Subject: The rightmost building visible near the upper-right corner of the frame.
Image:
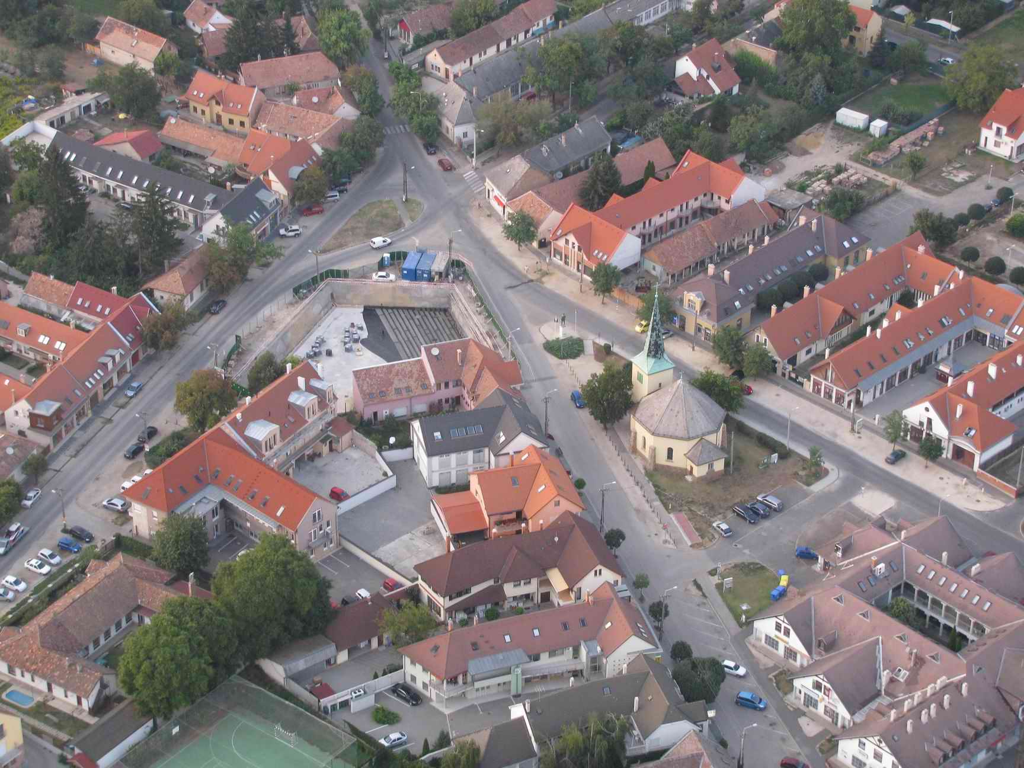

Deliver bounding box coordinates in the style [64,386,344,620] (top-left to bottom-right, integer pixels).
[980,86,1024,159]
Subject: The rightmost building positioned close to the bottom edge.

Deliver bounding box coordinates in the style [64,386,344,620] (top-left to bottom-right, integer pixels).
[755,515,1024,768]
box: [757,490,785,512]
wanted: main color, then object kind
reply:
gray car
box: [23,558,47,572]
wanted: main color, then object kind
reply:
white car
